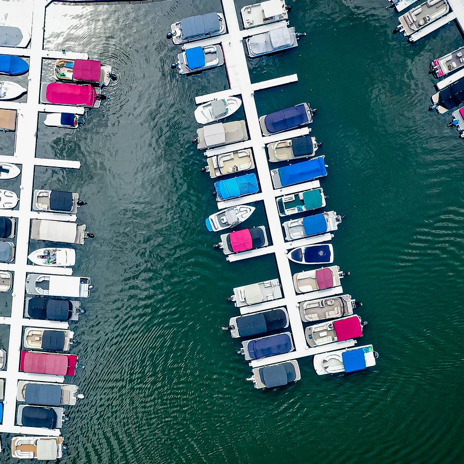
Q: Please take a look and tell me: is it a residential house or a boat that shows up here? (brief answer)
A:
boat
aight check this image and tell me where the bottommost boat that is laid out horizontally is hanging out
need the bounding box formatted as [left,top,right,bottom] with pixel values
[10,434,72,461]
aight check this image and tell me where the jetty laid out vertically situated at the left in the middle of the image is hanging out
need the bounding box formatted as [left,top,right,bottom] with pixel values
[0,2,90,437]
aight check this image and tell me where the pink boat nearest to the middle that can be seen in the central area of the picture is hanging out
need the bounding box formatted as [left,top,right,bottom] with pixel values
[214,223,274,254]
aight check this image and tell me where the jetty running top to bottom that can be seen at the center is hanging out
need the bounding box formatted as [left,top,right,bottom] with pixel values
[181,0,358,369]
